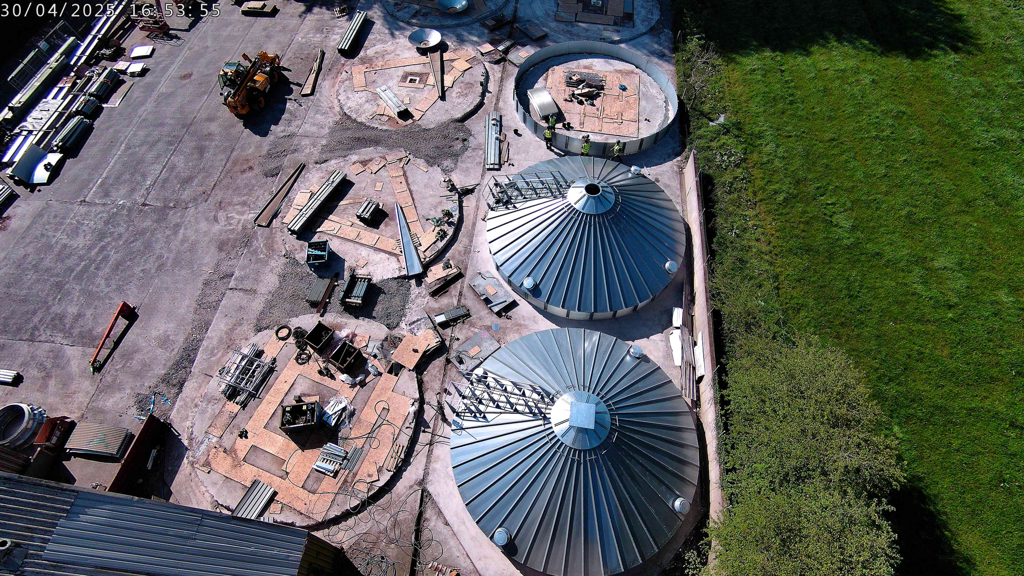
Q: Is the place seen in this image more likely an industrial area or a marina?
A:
industrial area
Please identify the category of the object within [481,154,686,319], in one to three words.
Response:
storage tank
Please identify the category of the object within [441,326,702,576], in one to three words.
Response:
storage tank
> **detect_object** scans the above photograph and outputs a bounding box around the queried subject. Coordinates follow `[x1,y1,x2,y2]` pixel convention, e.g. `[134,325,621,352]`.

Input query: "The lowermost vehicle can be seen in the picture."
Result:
[200,35,287,119]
